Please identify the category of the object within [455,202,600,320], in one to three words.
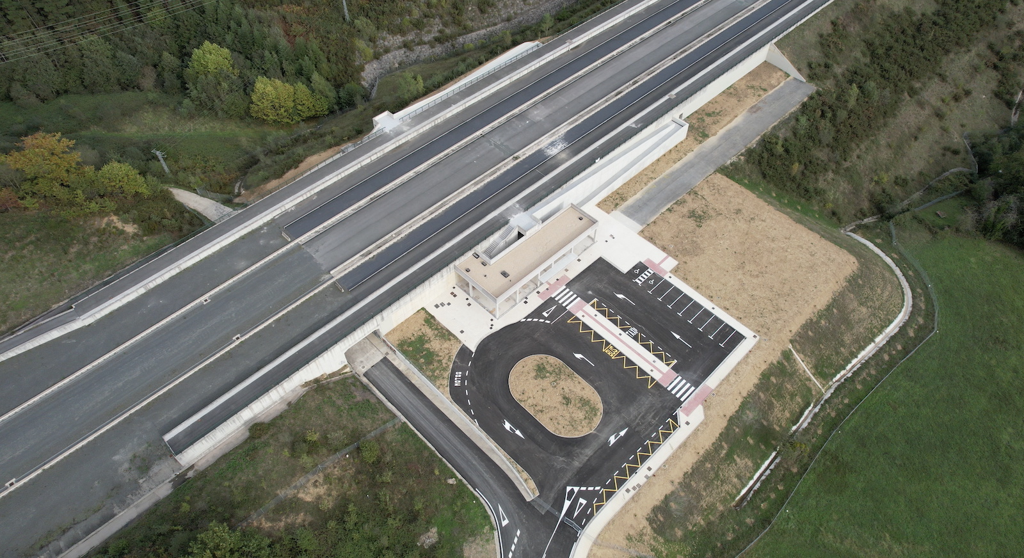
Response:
building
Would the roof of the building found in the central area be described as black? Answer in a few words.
No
